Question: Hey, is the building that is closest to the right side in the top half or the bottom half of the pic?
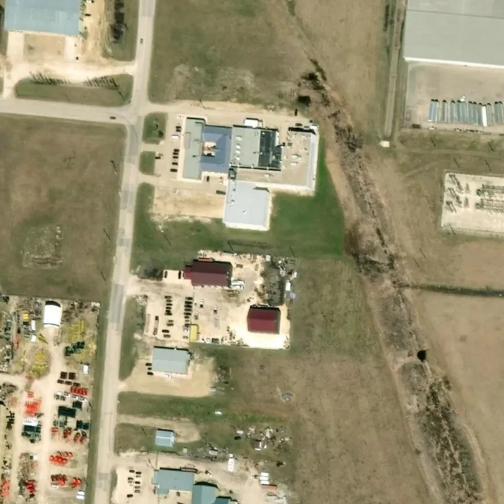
top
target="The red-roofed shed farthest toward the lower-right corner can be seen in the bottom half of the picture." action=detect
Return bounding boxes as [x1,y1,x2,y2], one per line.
[247,307,282,336]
